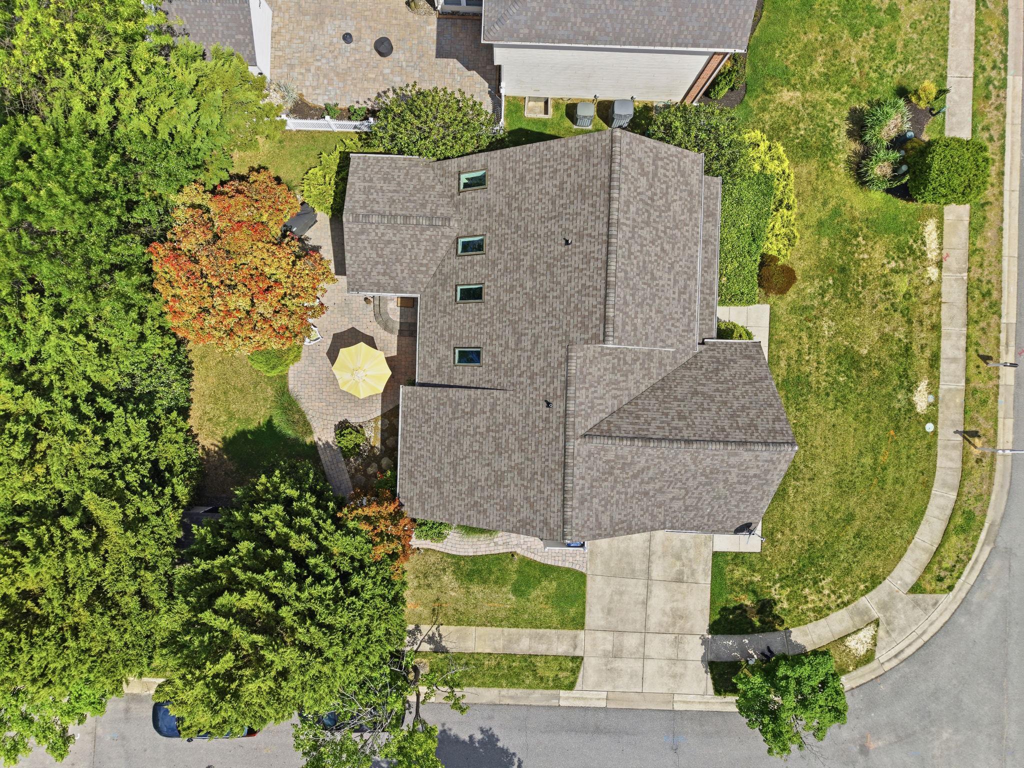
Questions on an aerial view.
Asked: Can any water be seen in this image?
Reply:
No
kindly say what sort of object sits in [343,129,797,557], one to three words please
house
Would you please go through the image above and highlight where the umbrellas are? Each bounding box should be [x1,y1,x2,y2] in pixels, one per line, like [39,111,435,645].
[332,342,392,398]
